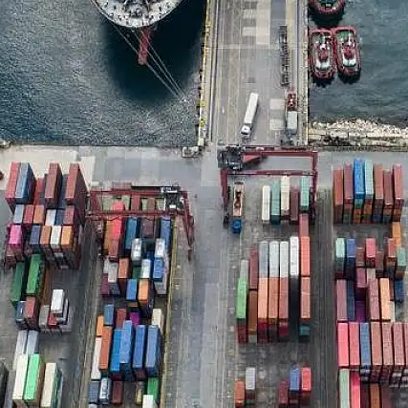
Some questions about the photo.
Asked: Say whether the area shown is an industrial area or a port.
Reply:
port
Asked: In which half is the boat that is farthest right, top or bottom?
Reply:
top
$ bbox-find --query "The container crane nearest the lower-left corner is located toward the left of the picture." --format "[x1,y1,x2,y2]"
[82,188,193,265]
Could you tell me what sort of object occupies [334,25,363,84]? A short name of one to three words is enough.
boat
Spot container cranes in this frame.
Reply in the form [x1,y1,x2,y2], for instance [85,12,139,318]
[82,188,193,265]
[216,149,320,228]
